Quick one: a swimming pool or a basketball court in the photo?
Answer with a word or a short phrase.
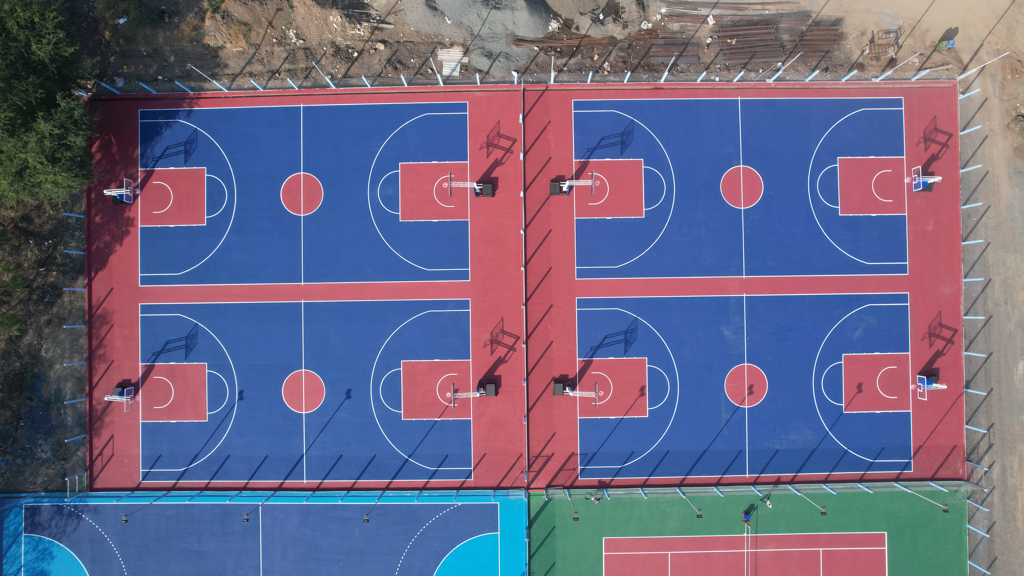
basketball court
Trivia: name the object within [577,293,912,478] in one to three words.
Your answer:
basketball court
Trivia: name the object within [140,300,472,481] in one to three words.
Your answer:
basketball court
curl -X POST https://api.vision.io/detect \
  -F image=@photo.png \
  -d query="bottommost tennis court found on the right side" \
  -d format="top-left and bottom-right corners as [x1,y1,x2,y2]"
[604,533,887,576]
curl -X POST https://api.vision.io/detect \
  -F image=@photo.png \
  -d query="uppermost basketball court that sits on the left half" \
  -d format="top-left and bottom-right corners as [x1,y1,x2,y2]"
[139,102,469,286]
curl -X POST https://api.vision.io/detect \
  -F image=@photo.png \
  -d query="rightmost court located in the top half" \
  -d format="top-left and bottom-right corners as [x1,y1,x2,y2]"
[573,98,908,279]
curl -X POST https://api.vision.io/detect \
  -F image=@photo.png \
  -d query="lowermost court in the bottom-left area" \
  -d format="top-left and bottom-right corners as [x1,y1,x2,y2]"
[24,503,499,576]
